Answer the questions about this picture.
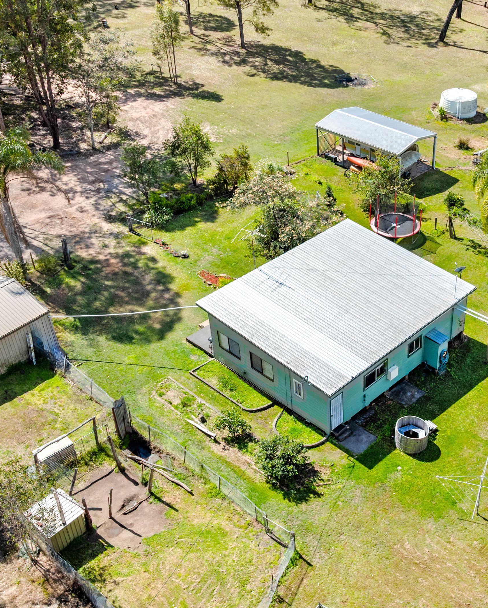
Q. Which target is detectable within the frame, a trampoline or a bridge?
trampoline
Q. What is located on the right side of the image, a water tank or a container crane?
water tank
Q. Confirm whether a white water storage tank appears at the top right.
Yes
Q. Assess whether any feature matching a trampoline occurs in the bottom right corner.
No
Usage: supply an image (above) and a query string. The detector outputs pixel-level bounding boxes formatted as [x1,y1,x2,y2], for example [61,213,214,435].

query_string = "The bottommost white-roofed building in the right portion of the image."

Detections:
[194,218,479,437]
